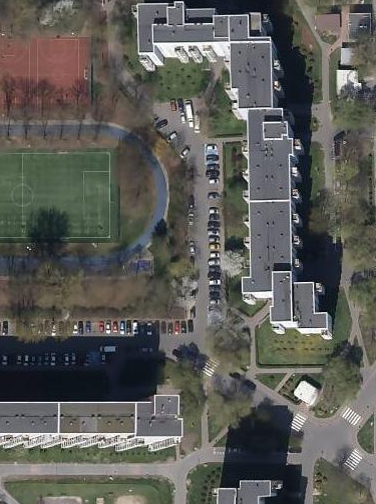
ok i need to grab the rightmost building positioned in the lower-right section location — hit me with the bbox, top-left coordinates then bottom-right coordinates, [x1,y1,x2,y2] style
[293,380,318,407]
